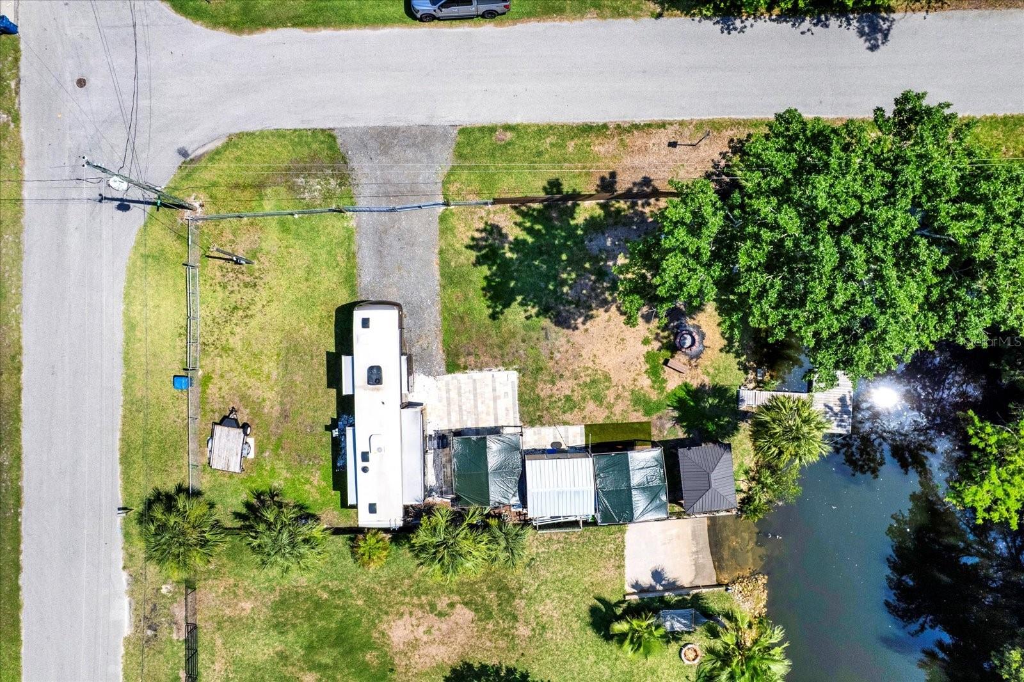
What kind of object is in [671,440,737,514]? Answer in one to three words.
gazebo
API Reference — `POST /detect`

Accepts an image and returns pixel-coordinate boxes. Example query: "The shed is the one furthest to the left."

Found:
[526,434,596,518]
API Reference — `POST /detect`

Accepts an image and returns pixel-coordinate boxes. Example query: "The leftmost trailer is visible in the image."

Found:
[206,401,250,474]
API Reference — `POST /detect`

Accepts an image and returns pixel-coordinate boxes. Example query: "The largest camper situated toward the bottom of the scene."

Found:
[342,306,430,531]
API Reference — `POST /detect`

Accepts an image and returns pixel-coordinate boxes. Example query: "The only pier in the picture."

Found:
[738,375,855,435]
